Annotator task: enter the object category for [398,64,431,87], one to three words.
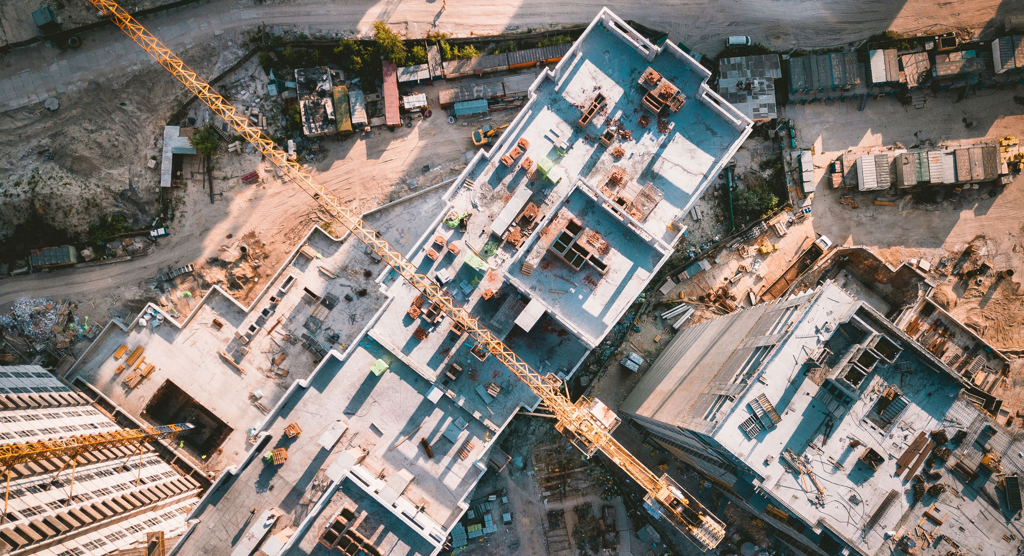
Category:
shed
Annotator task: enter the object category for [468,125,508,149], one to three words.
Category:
work vehicle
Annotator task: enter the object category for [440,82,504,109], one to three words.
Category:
building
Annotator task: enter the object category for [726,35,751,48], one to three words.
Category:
vehicle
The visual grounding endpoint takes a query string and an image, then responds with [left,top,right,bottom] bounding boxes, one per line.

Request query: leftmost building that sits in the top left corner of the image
[32,7,60,29]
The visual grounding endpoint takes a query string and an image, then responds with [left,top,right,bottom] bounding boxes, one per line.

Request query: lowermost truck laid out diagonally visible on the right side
[757,233,837,301]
